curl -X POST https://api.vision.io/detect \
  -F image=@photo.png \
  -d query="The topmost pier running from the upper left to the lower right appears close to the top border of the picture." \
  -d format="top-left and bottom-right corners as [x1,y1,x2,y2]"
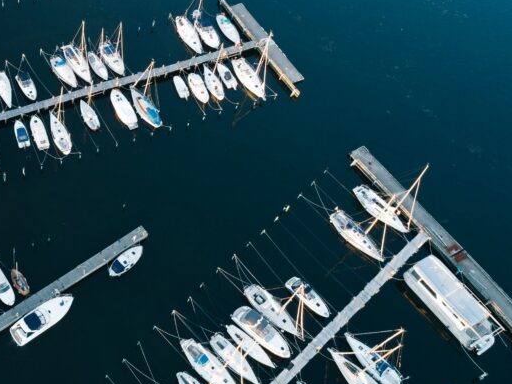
[229,3,304,84]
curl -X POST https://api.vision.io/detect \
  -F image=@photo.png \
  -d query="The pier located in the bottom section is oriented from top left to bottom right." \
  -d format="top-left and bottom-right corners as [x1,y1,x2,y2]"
[351,146,512,328]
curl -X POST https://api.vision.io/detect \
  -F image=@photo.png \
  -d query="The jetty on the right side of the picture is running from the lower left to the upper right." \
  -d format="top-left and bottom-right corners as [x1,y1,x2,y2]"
[268,230,431,384]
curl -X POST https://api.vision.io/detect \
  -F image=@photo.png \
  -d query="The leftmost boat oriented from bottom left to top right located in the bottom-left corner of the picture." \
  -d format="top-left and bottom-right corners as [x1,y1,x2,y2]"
[2,290,74,351]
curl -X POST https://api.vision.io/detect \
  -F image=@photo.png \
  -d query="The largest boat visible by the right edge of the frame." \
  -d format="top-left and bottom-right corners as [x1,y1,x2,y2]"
[402,238,509,372]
